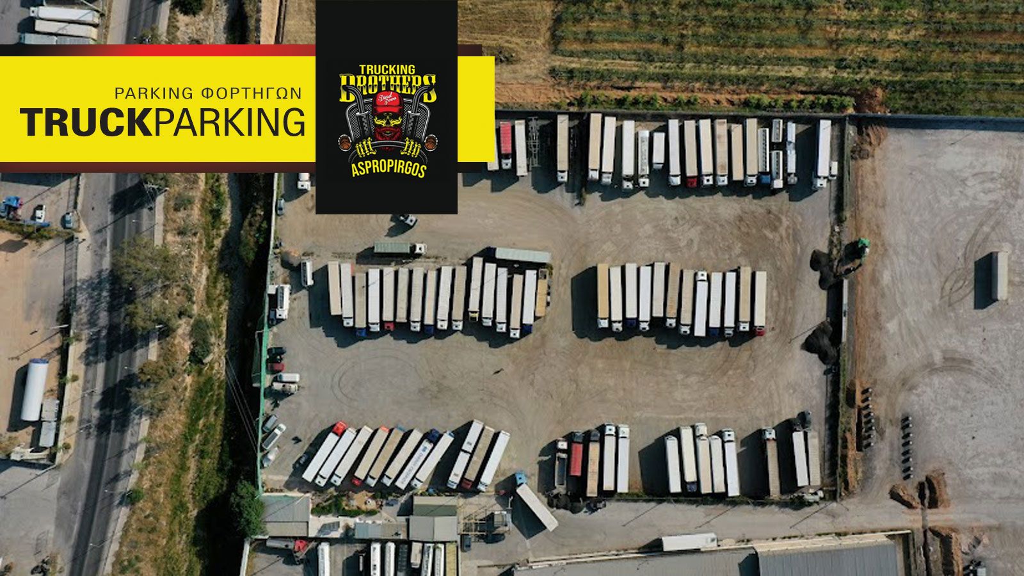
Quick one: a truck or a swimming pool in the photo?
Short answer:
truck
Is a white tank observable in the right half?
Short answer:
No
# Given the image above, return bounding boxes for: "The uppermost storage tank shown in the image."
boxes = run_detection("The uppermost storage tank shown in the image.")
[23,359,52,420]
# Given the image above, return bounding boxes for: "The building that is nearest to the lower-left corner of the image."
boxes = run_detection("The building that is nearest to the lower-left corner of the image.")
[39,420,61,447]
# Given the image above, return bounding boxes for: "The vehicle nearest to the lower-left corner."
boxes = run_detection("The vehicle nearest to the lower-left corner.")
[12,447,50,460]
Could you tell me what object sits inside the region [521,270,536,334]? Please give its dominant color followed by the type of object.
white vehicle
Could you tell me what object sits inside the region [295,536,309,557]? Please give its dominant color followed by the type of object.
red vehicle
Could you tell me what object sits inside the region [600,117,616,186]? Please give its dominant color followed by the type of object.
white vehicle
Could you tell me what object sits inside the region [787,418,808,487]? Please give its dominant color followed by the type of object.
white truck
